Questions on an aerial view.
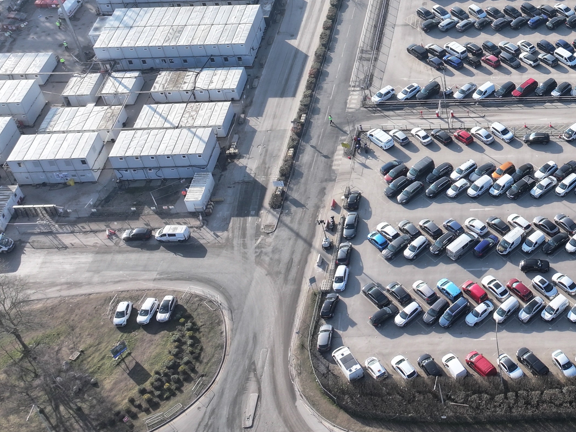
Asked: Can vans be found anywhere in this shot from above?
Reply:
Yes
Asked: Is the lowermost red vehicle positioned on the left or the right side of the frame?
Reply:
right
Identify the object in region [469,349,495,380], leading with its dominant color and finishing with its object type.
red vehicle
